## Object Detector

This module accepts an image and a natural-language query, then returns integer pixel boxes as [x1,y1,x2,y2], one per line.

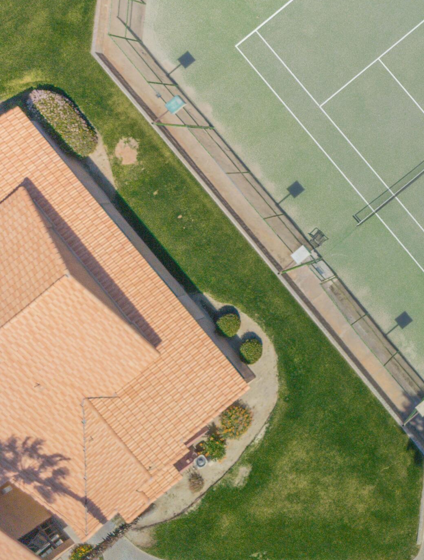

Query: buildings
[0,523,73,560]
[0,106,257,543]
